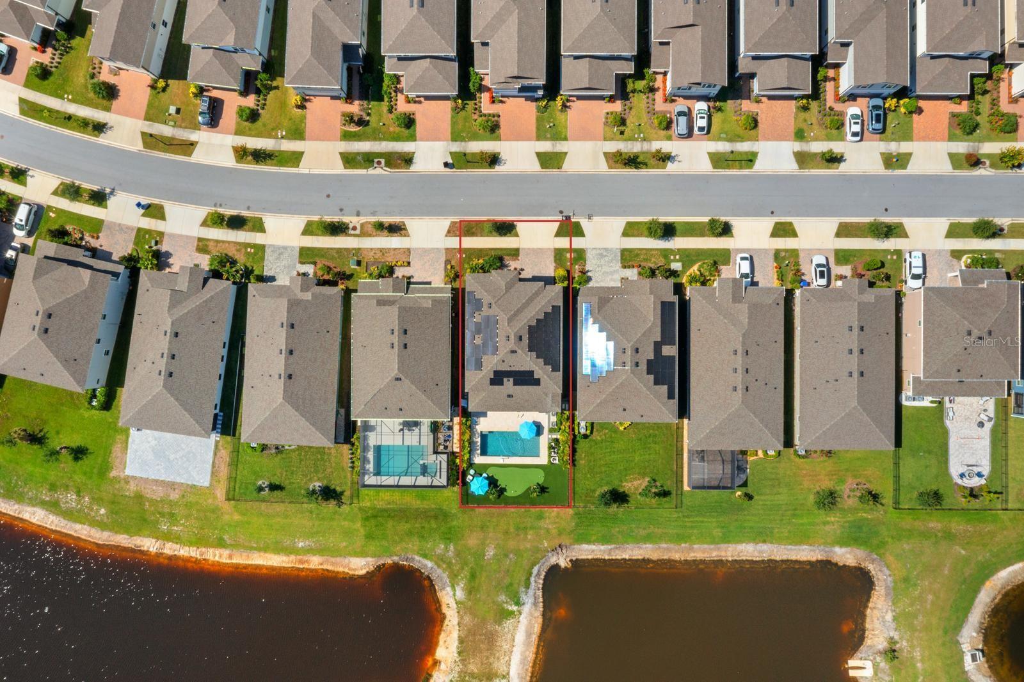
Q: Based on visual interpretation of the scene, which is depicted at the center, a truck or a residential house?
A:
residential house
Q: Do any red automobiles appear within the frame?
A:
No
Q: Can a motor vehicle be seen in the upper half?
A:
Yes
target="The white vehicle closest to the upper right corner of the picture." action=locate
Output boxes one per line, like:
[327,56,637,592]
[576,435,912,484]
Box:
[845,107,863,143]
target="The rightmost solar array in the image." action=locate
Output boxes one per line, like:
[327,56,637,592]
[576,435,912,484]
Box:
[647,301,676,399]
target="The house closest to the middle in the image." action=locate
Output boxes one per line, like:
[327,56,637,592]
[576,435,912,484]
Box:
[466,270,563,412]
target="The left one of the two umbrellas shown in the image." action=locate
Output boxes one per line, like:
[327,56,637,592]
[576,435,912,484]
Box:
[470,475,489,494]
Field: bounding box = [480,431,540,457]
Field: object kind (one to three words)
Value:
swimming pool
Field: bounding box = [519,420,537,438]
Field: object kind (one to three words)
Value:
umbrella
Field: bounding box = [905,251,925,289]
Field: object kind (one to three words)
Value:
car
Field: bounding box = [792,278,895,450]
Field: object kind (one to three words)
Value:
house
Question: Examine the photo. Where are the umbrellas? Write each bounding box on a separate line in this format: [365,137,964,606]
[519,420,537,438]
[470,475,489,494]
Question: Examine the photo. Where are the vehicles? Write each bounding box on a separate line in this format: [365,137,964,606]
[0,40,13,76]
[866,99,885,134]
[197,93,216,127]
[674,103,691,138]
[810,254,829,288]
[14,201,39,239]
[905,251,925,289]
[735,253,752,287]
[845,107,863,143]
[693,101,710,136]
